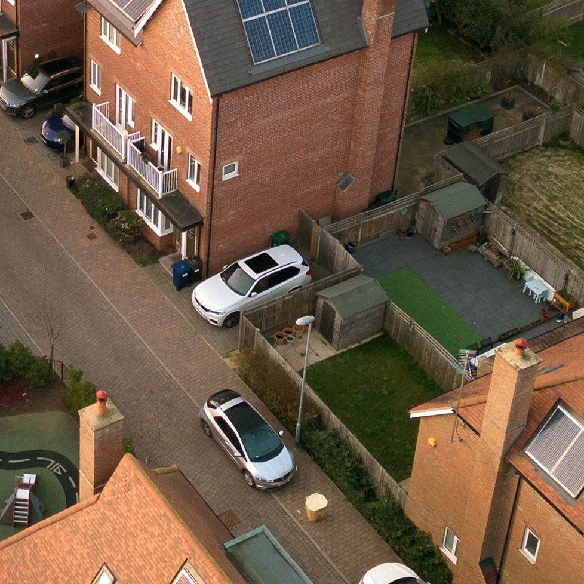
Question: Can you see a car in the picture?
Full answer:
Yes, there's a car down there.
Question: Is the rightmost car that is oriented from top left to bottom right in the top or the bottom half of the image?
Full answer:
You can find the rightmost car that is oriented from top left to bottom right in the bottom half.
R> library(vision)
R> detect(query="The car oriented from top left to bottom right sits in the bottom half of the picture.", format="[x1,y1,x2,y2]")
[201,388,299,490]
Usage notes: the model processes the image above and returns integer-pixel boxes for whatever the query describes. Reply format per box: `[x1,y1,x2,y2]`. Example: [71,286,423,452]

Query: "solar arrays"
[236,0,329,76]
[96,0,159,35]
